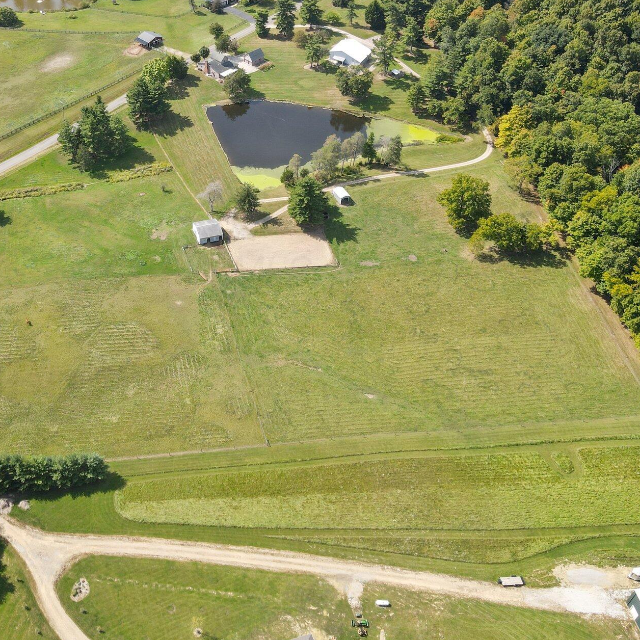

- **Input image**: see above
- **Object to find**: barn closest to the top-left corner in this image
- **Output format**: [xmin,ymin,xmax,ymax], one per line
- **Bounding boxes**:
[131,33,162,50]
